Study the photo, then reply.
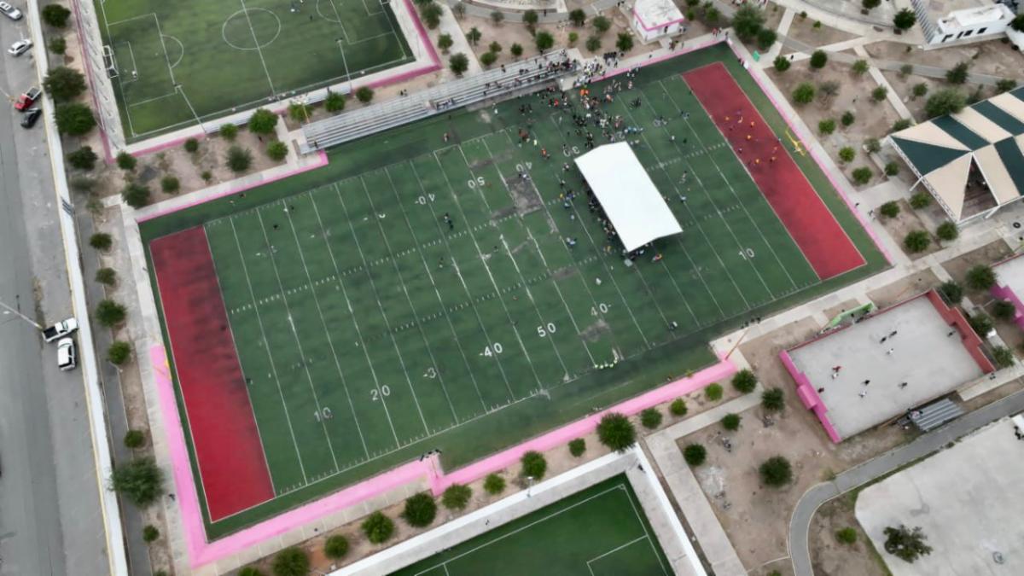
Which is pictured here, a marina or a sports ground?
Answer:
sports ground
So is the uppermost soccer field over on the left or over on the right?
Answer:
left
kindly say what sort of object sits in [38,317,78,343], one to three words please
vehicle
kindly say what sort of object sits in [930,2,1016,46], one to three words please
building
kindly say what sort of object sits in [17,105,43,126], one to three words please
car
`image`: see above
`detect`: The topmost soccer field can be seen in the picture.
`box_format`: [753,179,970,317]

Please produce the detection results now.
[94,0,415,142]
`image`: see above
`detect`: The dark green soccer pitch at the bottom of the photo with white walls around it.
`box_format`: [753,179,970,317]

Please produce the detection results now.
[395,474,678,576]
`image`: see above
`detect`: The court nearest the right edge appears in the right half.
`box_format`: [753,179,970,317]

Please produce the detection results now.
[992,251,1024,307]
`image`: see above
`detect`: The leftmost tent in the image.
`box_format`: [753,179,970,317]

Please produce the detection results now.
[574,141,683,261]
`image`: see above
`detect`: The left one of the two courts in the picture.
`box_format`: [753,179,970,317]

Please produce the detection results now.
[783,293,981,441]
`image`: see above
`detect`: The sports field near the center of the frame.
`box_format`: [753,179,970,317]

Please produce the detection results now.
[138,41,894,543]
